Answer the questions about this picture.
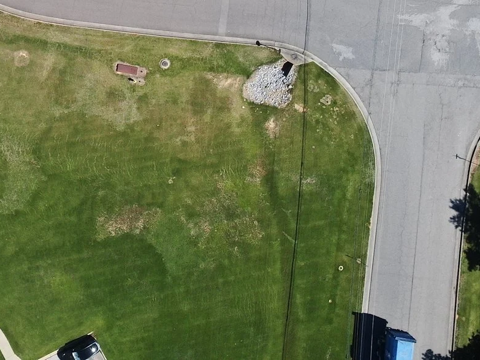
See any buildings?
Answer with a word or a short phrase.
No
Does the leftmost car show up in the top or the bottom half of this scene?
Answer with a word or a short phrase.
bottom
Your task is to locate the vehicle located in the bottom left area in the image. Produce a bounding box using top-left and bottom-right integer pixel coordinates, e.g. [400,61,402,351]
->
[61,338,103,360]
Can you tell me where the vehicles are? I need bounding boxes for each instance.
[61,338,103,360]
[378,322,414,360]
